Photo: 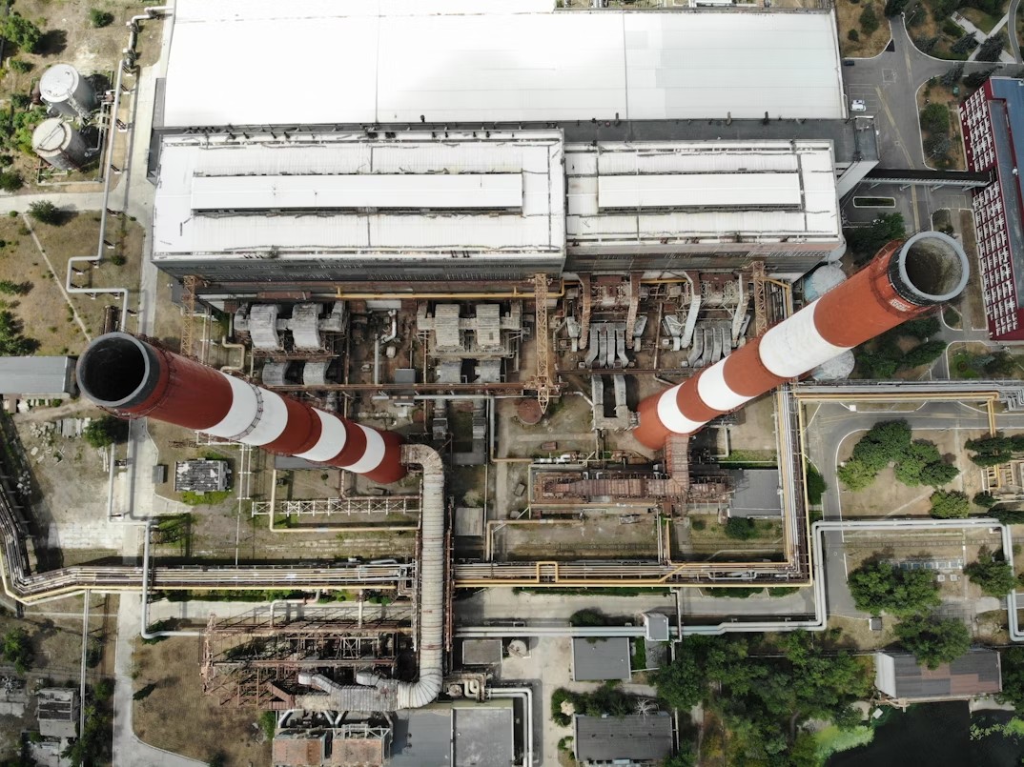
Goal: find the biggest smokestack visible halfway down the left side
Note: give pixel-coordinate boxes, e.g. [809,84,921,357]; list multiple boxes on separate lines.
[75,329,406,484]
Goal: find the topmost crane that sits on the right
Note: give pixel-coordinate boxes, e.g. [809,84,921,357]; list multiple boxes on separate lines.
[746,267,768,340]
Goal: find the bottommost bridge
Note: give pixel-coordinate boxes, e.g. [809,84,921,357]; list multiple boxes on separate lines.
[252,498,420,516]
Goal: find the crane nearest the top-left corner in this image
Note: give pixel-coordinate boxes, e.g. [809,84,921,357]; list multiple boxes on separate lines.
[179,279,220,360]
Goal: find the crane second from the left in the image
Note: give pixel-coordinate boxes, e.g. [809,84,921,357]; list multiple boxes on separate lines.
[526,285,561,412]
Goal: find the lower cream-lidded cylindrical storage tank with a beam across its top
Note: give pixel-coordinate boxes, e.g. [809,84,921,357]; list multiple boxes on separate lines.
[33,122,84,167]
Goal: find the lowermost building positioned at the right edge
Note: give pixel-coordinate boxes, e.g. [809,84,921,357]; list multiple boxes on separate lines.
[867,651,1006,703]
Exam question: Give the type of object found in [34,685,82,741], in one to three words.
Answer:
building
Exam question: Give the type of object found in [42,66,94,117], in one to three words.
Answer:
storage tank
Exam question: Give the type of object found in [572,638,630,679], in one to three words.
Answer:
building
